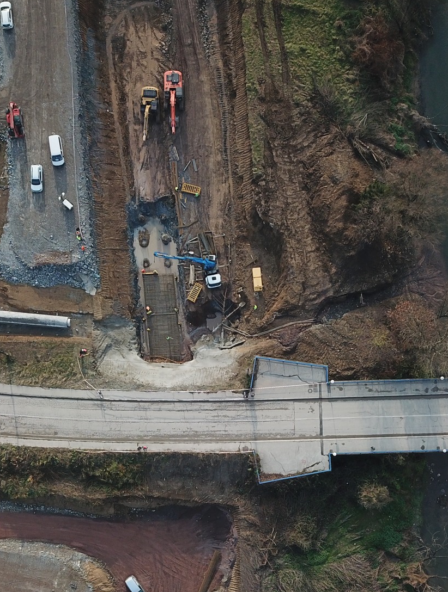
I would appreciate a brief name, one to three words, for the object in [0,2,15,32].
car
